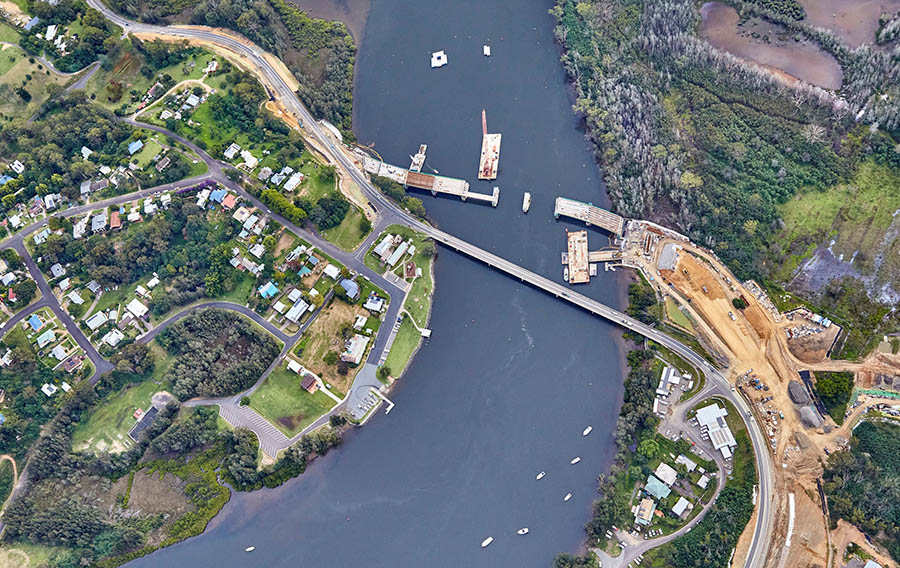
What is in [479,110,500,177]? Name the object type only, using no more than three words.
ship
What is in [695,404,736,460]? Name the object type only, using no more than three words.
building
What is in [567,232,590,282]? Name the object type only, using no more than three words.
ship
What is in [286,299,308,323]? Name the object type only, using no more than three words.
house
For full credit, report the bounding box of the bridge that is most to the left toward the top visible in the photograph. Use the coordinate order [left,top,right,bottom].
[359,153,499,210]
